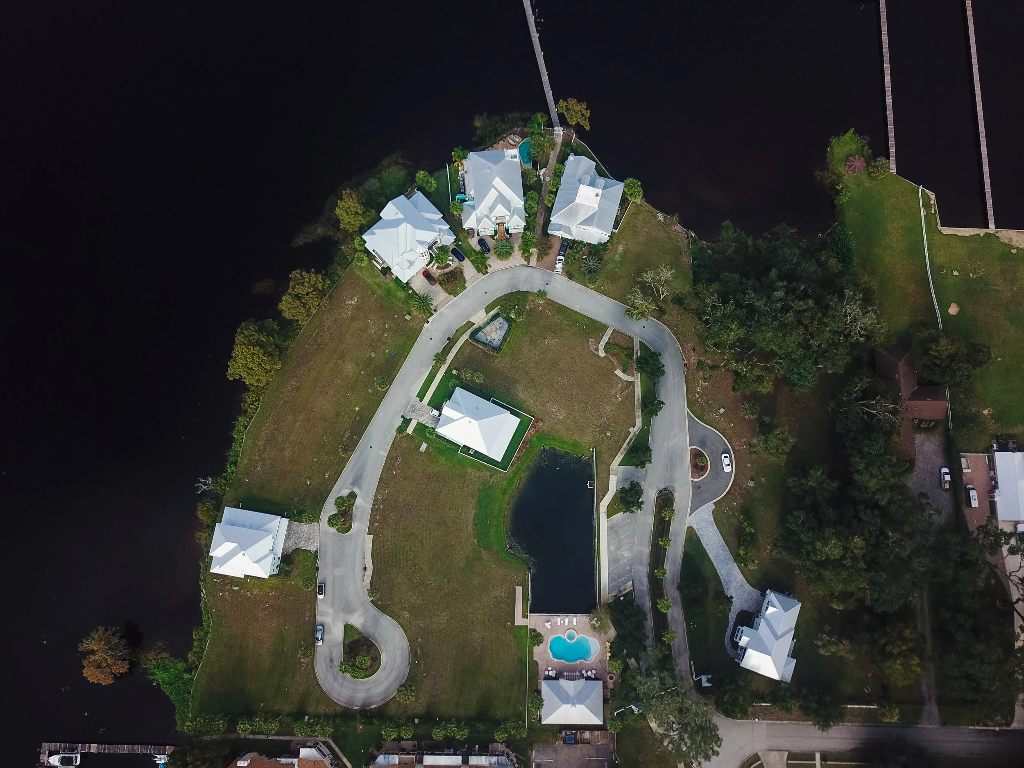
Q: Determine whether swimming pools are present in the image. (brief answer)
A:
Yes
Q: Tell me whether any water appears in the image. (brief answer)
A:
Yes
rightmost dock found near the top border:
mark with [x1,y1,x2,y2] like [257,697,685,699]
[961,0,996,230]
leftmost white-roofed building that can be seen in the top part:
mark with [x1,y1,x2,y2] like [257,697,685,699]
[362,188,456,283]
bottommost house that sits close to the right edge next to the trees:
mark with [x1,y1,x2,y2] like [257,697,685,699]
[989,440,1024,521]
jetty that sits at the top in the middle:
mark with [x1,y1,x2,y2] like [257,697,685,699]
[525,0,560,130]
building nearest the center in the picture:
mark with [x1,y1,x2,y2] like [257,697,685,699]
[435,387,520,462]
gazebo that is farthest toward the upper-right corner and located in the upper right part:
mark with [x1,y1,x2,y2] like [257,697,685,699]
[840,156,864,178]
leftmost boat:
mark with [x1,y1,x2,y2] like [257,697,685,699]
[47,754,82,766]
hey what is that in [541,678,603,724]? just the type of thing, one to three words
building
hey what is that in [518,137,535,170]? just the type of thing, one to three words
swimming pool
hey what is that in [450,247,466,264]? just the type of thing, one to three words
car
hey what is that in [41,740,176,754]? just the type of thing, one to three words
pier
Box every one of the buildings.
[541,678,603,724]
[456,148,526,242]
[989,440,1024,521]
[548,152,624,244]
[699,670,714,686]
[435,387,520,462]
[363,743,516,768]
[362,188,456,283]
[871,346,947,458]
[227,738,337,768]
[734,589,801,683]
[209,506,292,578]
